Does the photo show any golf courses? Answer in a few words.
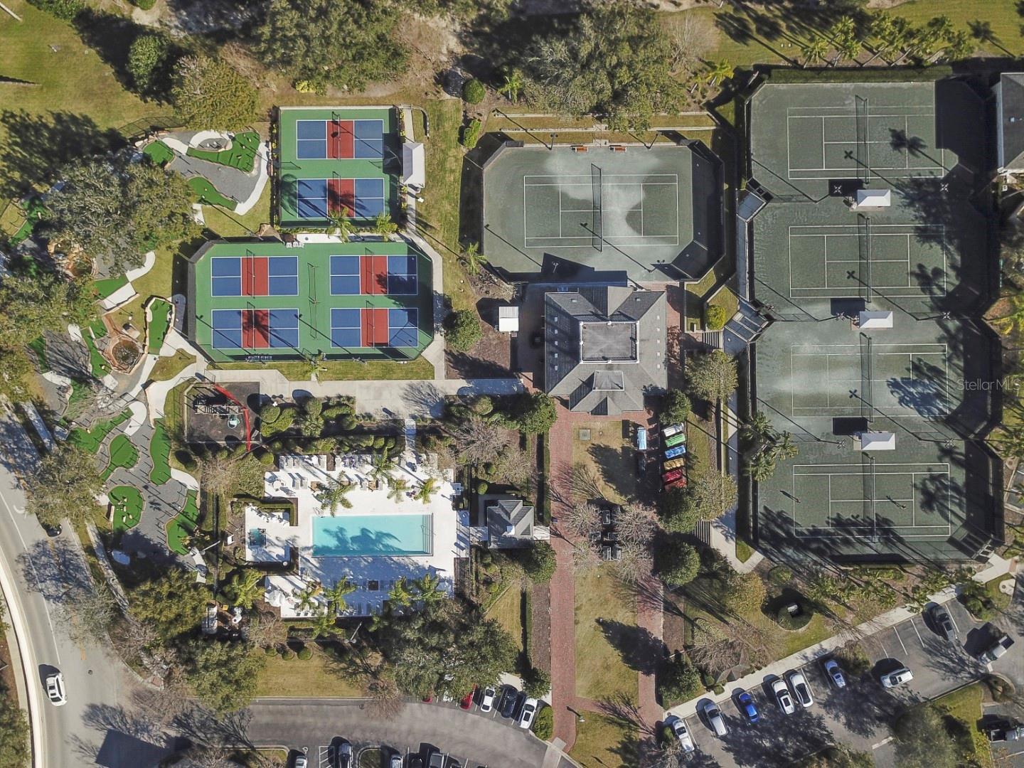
Yes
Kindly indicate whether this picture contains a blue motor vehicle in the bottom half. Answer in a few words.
Yes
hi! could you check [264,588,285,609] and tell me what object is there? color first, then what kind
white umbrella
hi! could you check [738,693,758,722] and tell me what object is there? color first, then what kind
blue car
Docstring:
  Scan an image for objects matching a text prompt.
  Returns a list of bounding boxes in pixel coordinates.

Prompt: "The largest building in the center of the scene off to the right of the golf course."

[545,287,668,415]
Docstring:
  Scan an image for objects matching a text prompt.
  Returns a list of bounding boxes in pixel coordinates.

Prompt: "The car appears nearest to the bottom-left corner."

[47,671,68,704]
